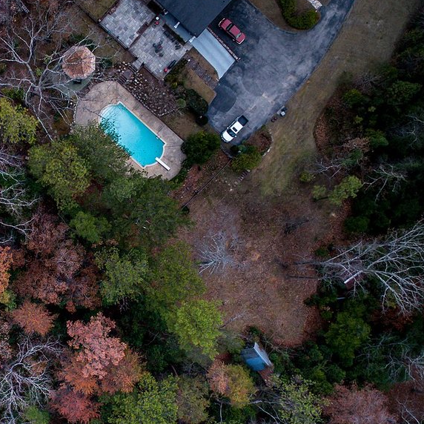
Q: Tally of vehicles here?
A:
two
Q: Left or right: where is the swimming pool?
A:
left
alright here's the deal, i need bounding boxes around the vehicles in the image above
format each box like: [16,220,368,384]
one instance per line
[217,17,246,44]
[220,114,250,145]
